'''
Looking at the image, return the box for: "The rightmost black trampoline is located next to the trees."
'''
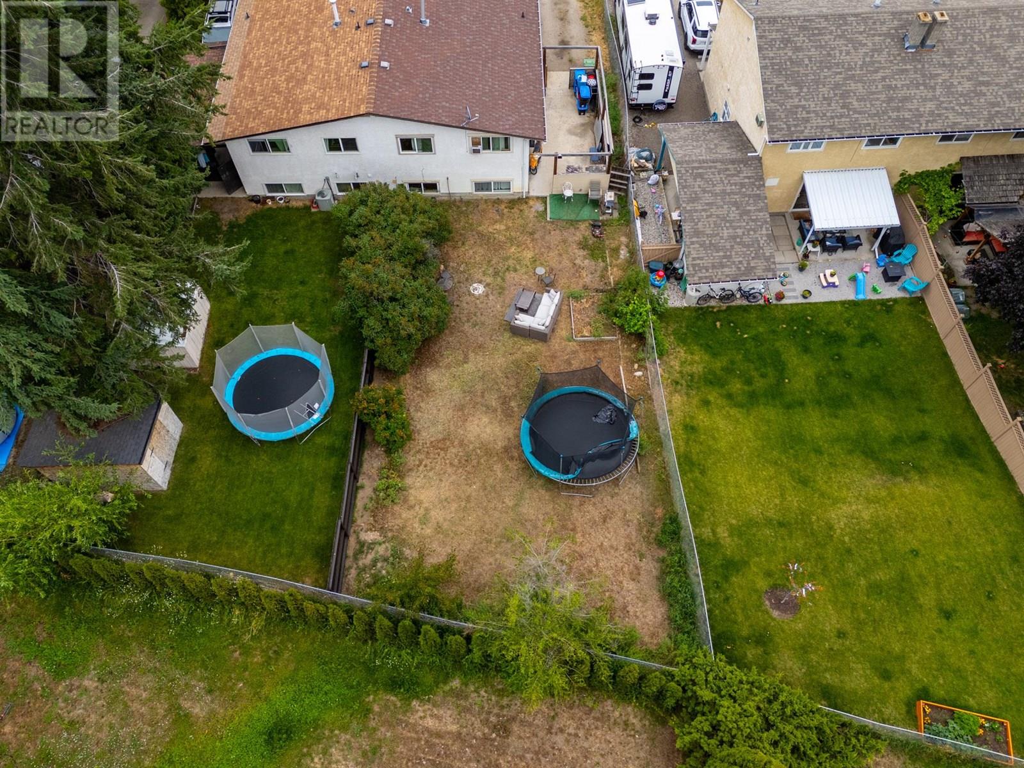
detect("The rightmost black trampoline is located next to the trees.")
[517,358,646,499]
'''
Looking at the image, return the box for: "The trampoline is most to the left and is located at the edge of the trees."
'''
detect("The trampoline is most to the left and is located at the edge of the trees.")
[204,320,336,449]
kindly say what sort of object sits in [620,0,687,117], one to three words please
trailer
